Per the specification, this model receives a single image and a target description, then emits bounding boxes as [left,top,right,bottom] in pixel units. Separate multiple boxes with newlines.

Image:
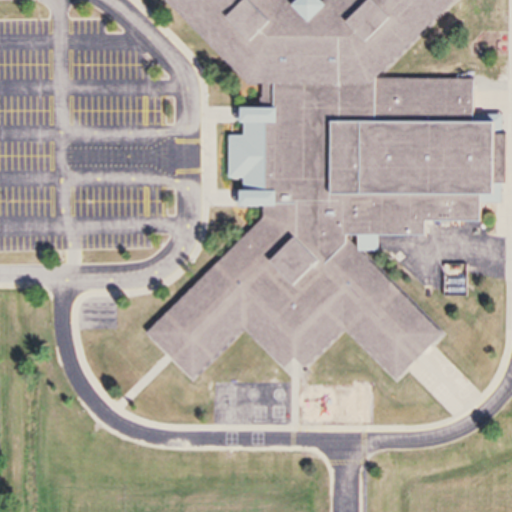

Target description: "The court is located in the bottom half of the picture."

[214,382,290,425]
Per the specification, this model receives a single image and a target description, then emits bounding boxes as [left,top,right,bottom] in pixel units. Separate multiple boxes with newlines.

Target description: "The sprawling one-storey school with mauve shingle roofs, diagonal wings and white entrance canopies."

[148,0,506,382]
